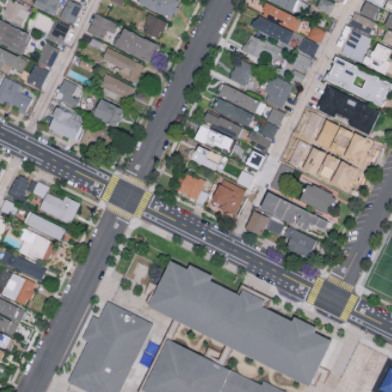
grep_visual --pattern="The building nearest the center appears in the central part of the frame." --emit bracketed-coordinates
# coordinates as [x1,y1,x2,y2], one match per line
[179,174,208,206]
